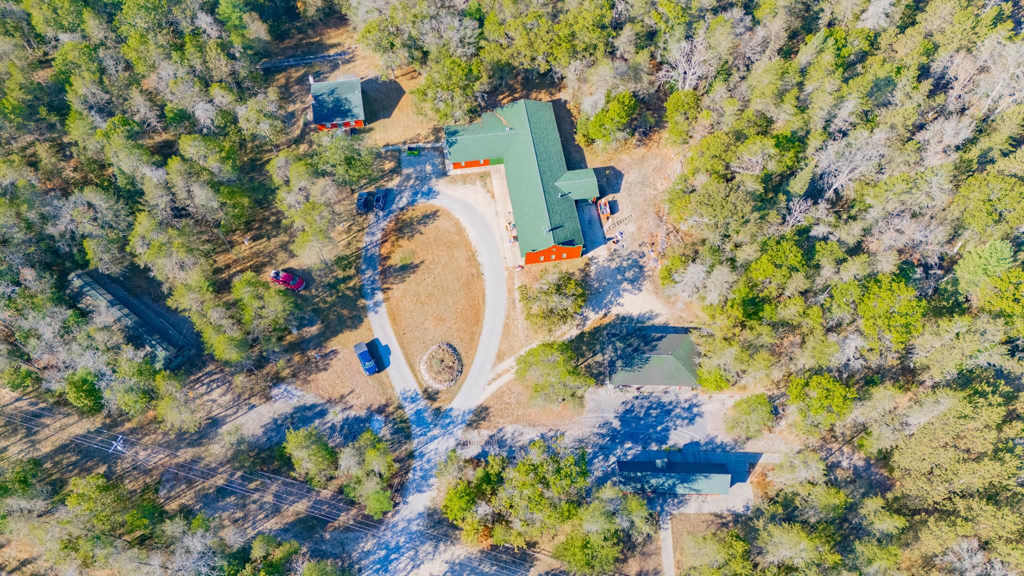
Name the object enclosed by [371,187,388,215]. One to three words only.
car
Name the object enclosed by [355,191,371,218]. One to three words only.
car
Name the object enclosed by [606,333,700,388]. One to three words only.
building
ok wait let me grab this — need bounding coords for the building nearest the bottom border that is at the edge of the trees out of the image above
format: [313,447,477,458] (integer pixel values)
[616,460,731,496]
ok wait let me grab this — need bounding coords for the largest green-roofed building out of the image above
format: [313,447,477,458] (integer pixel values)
[445,100,599,264]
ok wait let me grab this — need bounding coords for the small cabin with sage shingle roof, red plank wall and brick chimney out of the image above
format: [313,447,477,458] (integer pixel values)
[308,72,366,138]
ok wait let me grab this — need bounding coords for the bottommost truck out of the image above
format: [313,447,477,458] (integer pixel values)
[352,340,379,379]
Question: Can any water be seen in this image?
No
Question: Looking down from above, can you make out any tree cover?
Yes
